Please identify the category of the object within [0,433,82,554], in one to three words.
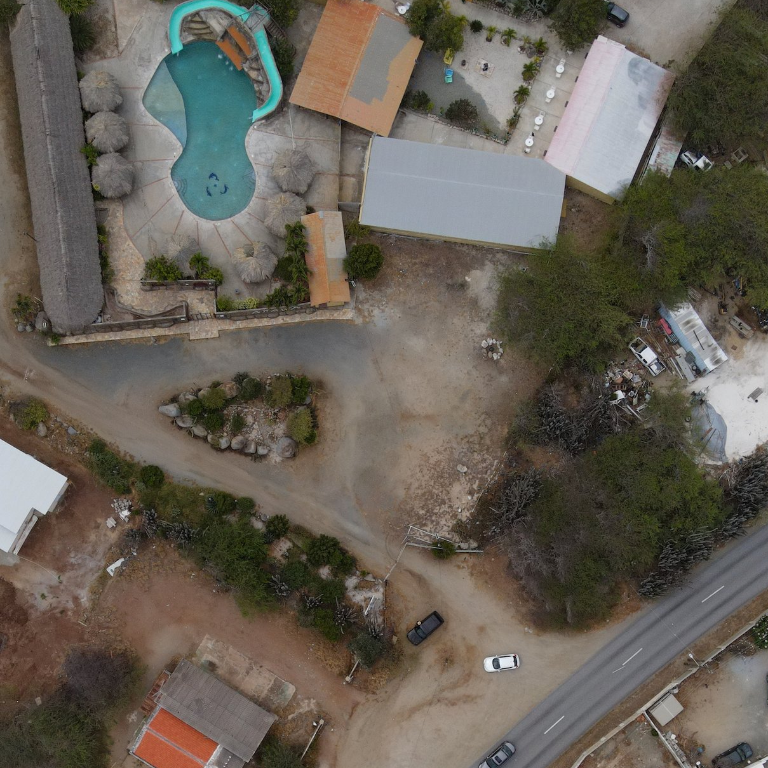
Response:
house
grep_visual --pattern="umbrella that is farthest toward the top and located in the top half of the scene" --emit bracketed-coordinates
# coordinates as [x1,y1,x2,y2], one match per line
[80,69,129,114]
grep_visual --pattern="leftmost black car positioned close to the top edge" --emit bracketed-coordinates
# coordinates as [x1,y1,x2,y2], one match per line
[600,1,632,29]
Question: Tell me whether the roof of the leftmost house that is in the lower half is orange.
No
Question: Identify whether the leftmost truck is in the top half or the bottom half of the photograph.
bottom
